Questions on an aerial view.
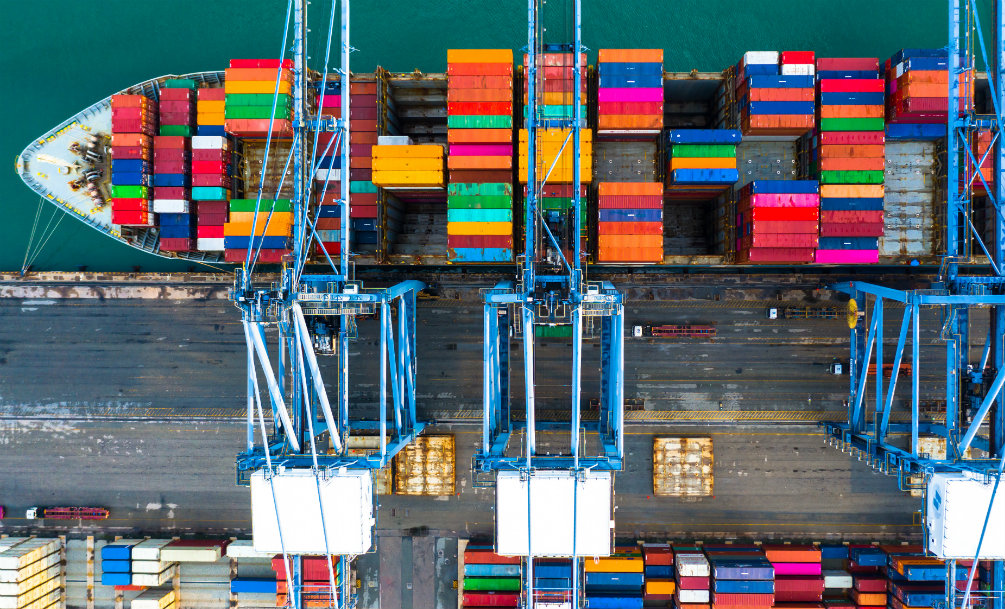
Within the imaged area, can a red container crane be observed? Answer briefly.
No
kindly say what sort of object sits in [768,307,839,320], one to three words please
vehicle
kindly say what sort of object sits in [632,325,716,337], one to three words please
vehicle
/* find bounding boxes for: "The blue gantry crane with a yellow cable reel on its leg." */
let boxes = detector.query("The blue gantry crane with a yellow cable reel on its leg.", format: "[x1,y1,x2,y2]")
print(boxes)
[806,0,1005,609]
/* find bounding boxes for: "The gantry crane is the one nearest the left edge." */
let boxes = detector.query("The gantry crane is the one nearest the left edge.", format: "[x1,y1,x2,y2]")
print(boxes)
[226,0,450,609]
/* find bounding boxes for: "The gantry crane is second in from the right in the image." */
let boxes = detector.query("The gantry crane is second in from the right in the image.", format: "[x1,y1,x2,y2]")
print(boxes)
[472,0,632,609]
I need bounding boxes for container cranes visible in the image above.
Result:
[472,0,632,609]
[226,0,450,609]
[806,0,1005,609]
